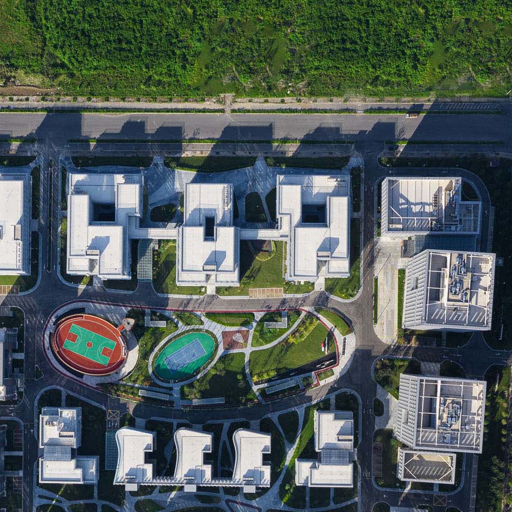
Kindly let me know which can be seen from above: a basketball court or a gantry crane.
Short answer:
basketball court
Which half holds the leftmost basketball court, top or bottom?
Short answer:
bottom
